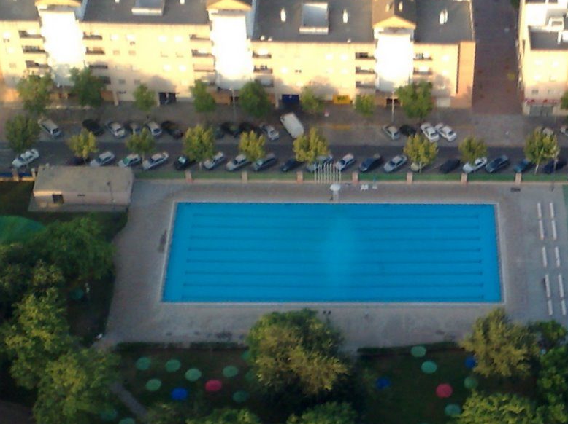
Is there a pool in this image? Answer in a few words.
Yes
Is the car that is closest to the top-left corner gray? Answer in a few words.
Yes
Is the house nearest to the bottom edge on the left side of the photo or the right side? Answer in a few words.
left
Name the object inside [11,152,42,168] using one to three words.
car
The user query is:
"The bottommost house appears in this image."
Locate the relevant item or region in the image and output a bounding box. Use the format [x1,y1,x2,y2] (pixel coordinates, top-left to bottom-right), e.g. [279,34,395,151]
[29,164,135,211]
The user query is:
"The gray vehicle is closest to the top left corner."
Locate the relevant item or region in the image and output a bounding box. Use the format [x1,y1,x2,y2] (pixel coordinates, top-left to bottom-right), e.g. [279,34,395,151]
[39,119,63,139]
